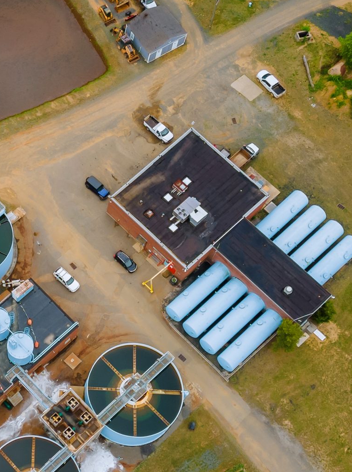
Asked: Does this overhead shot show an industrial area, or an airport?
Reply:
industrial area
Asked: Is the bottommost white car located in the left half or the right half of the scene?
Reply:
left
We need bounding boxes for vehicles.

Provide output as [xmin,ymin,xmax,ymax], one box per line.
[51,266,82,296]
[144,115,174,144]
[112,249,139,276]
[98,3,116,28]
[108,0,131,15]
[140,0,161,9]
[109,28,139,66]
[83,174,111,201]
[256,71,286,99]
[229,143,261,169]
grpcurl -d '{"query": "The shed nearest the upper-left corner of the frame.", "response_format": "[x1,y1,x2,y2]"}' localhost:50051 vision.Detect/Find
[124,5,190,64]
